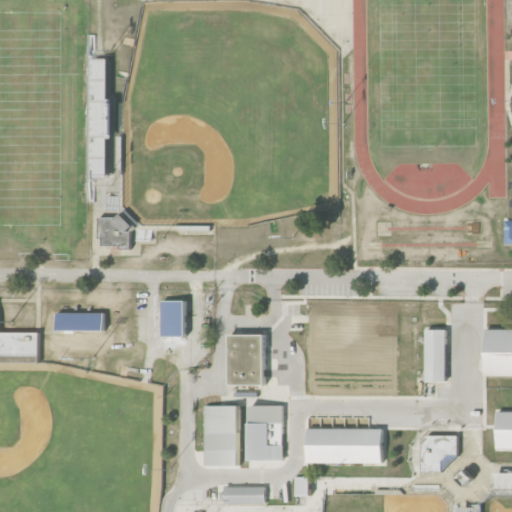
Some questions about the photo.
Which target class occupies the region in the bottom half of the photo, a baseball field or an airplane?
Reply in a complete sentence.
Visible in the bottom half of the photo is a baseball field.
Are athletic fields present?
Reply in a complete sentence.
Yes, I can see an athletic field in this picture.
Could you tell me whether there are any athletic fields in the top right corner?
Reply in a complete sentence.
Yes, you'll find an athletic field in the top right corner.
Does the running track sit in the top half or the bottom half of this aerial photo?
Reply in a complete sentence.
The top half of the photo is where the running track is.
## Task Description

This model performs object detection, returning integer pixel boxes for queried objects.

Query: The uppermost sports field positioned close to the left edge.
[0,0,87,251]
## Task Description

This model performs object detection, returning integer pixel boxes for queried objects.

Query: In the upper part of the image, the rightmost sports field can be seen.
[367,0,488,200]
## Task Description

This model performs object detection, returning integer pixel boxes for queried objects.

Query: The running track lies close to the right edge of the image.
[353,0,506,214]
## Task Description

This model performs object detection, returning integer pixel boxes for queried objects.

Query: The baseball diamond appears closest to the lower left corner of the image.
[0,363,162,512]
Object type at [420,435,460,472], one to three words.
building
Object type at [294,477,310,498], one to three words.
shed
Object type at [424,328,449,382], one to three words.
building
